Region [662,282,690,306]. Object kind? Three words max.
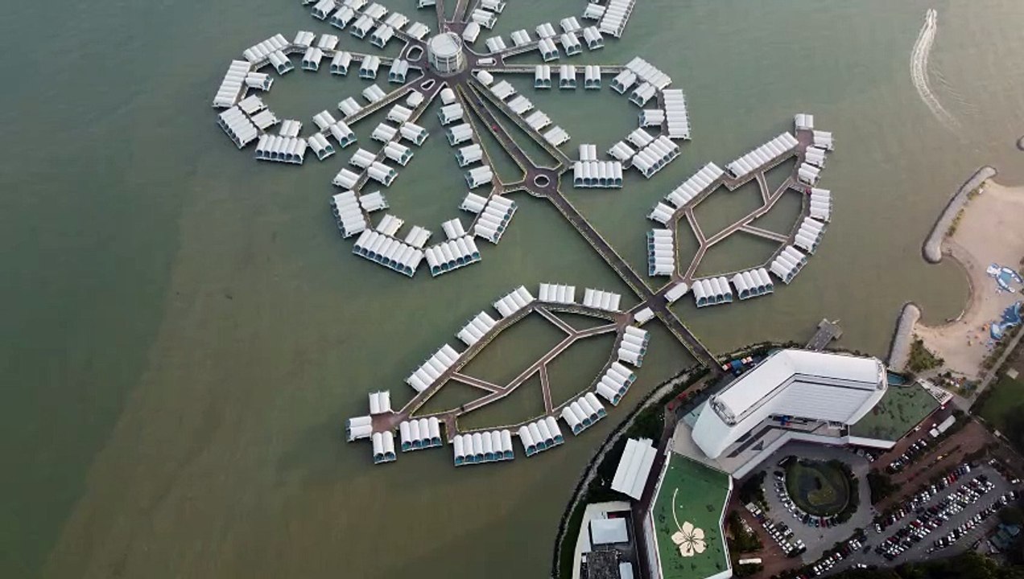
building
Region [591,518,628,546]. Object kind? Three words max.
shed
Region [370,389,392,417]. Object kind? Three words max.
house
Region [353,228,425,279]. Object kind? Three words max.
house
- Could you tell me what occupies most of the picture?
water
